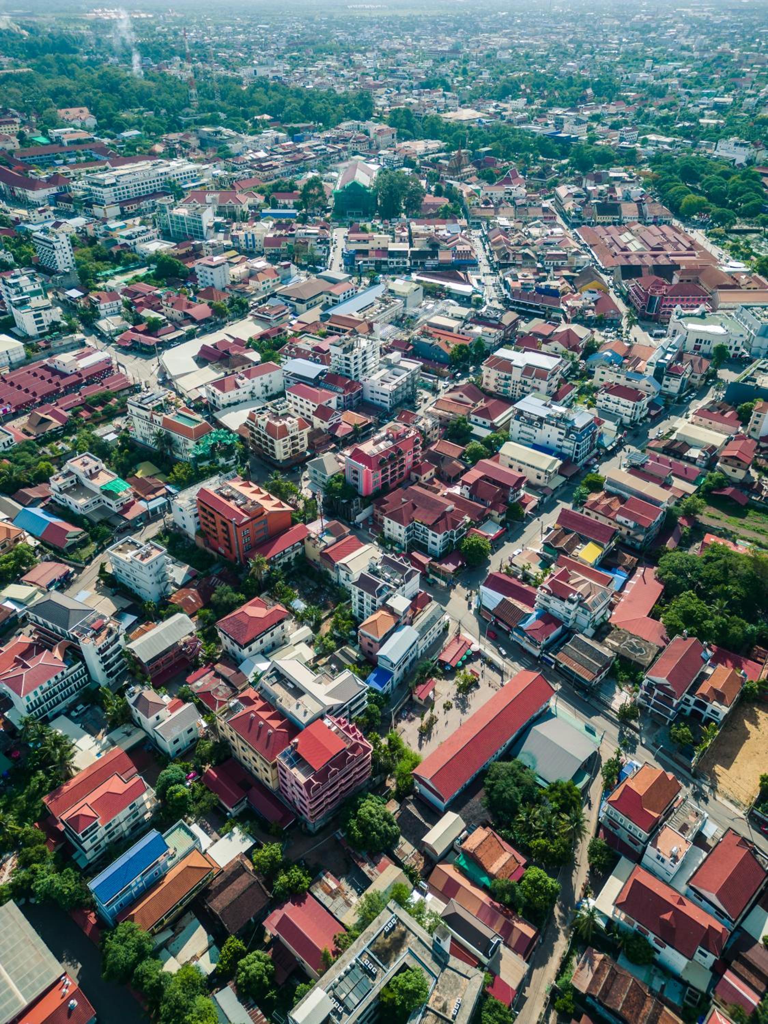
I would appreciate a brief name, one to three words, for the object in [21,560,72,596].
shed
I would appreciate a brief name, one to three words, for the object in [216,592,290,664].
house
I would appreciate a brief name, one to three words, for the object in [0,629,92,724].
building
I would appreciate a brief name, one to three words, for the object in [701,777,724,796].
car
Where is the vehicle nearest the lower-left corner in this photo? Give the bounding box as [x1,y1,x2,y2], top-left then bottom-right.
[67,701,90,717]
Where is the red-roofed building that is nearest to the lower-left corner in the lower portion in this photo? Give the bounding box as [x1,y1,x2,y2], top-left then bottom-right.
[19,976,100,1024]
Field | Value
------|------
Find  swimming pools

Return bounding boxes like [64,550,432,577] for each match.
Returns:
[174,411,200,424]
